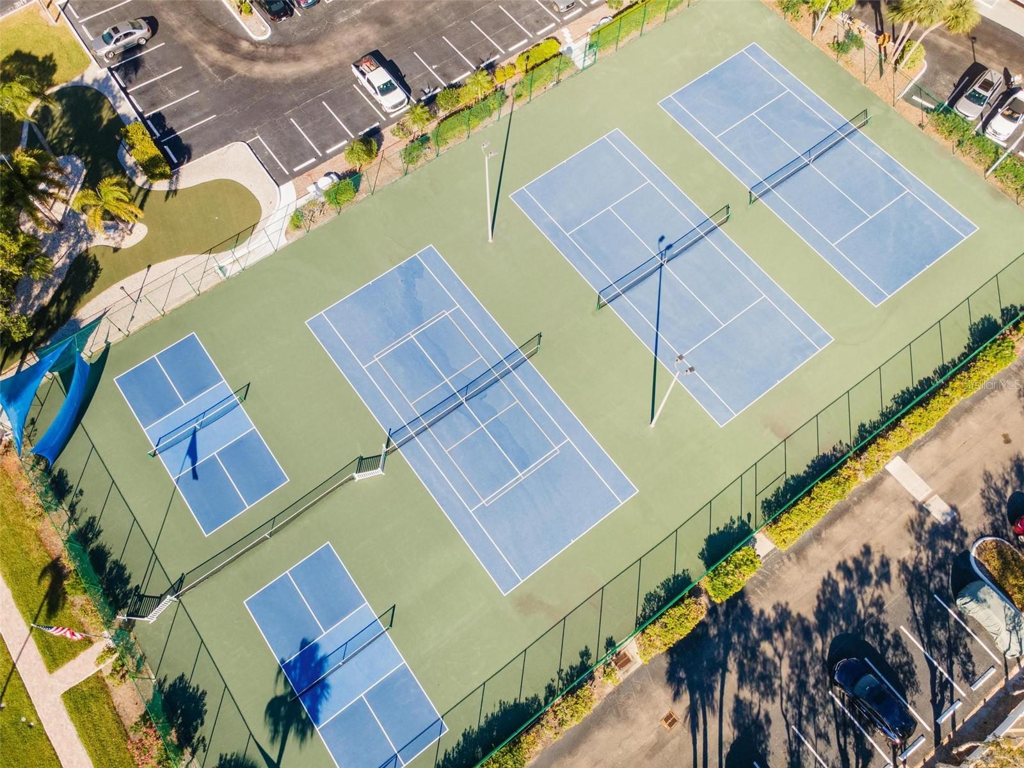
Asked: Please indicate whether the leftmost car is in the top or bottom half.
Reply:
top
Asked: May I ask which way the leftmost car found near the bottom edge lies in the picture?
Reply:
diagonally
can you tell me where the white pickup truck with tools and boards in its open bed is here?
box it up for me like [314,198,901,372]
[353,55,405,111]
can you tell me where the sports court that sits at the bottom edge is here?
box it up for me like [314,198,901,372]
[243,543,449,768]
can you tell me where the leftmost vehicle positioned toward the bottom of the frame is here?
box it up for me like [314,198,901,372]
[834,661,918,744]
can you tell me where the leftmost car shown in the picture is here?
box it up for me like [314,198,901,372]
[92,20,152,57]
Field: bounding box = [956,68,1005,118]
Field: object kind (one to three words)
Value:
car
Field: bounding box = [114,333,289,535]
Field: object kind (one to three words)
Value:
sports court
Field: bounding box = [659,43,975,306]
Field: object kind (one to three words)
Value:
tennis court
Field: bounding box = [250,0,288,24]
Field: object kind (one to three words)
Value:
car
